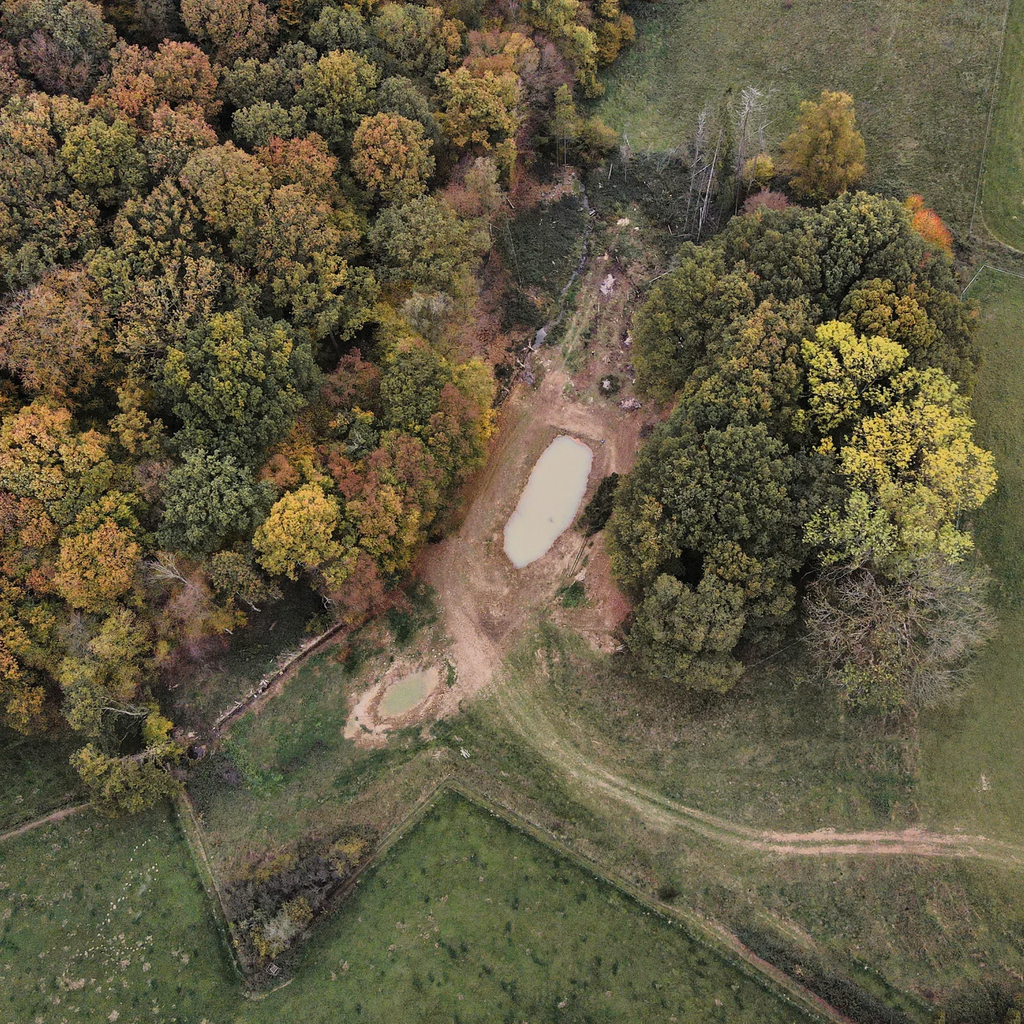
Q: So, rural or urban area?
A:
rural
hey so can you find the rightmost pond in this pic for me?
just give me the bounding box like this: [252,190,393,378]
[502,437,593,570]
